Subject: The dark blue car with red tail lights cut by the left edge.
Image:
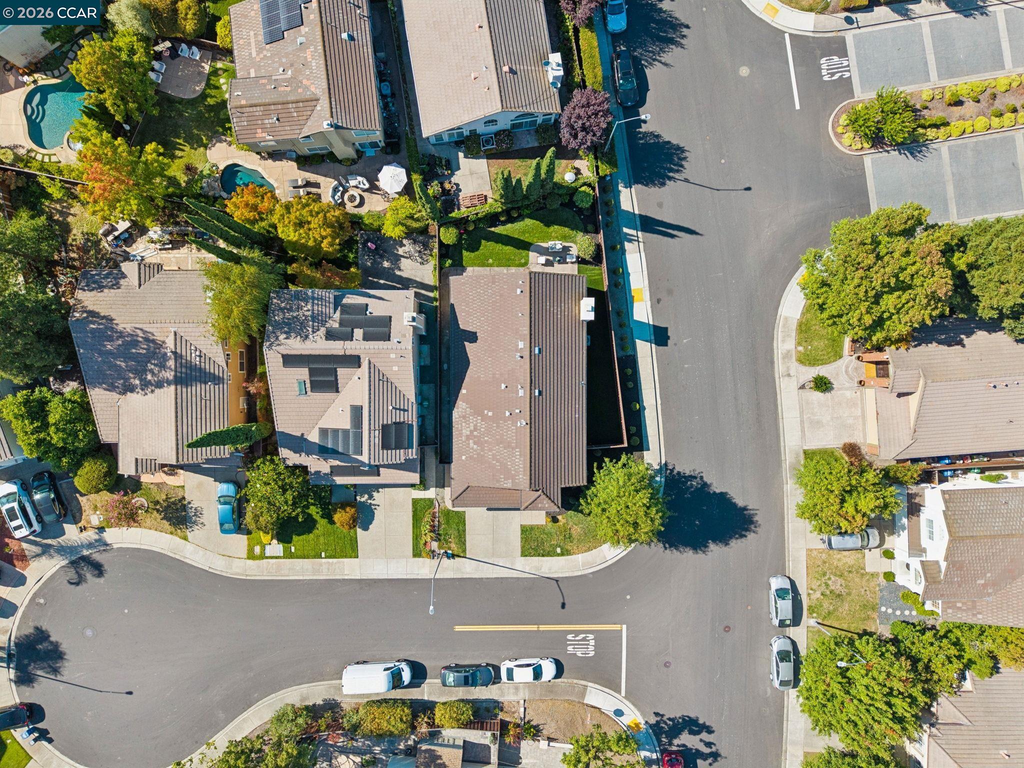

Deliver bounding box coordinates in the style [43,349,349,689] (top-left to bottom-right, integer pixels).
[0,698,40,729]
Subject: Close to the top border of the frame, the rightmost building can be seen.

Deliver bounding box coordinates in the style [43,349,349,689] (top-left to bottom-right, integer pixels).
[402,0,563,144]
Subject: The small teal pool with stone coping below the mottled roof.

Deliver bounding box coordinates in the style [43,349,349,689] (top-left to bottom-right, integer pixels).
[216,159,281,205]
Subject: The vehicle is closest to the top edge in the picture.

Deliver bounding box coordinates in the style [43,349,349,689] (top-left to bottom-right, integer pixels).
[603,0,627,35]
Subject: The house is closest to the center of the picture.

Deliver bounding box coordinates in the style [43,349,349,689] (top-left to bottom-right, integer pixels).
[450,271,595,511]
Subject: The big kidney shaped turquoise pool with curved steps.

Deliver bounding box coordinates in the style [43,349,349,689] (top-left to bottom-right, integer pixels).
[19,70,97,154]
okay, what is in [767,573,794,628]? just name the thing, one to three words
car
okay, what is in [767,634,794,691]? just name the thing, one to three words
car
